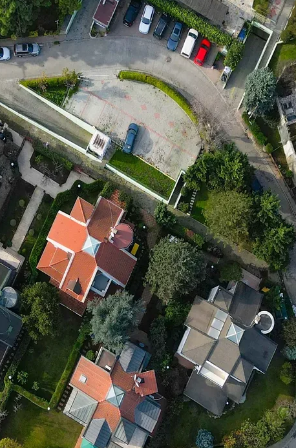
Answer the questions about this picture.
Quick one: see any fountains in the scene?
No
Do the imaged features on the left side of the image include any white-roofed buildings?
Yes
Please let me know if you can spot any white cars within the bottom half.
No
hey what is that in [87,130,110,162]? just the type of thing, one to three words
building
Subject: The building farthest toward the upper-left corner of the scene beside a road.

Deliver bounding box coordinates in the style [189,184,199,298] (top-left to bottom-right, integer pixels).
[92,0,118,32]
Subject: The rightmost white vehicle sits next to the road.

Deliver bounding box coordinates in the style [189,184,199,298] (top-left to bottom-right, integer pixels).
[179,29,198,60]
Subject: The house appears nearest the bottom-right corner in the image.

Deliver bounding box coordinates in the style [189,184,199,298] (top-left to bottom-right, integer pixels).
[176,282,279,415]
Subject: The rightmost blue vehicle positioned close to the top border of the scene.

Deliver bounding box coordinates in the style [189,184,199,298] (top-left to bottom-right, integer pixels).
[166,21,184,50]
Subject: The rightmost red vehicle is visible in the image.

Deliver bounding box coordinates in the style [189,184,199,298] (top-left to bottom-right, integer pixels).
[192,38,211,68]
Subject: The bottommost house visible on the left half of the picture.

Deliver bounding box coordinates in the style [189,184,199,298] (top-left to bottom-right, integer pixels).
[64,342,165,448]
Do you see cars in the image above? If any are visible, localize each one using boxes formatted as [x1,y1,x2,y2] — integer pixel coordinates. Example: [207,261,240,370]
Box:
[11,41,41,59]
[121,0,142,27]
[179,29,198,60]
[152,12,170,40]
[122,122,138,152]
[137,3,156,34]
[166,21,184,50]
[192,38,211,68]
[0,45,11,61]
